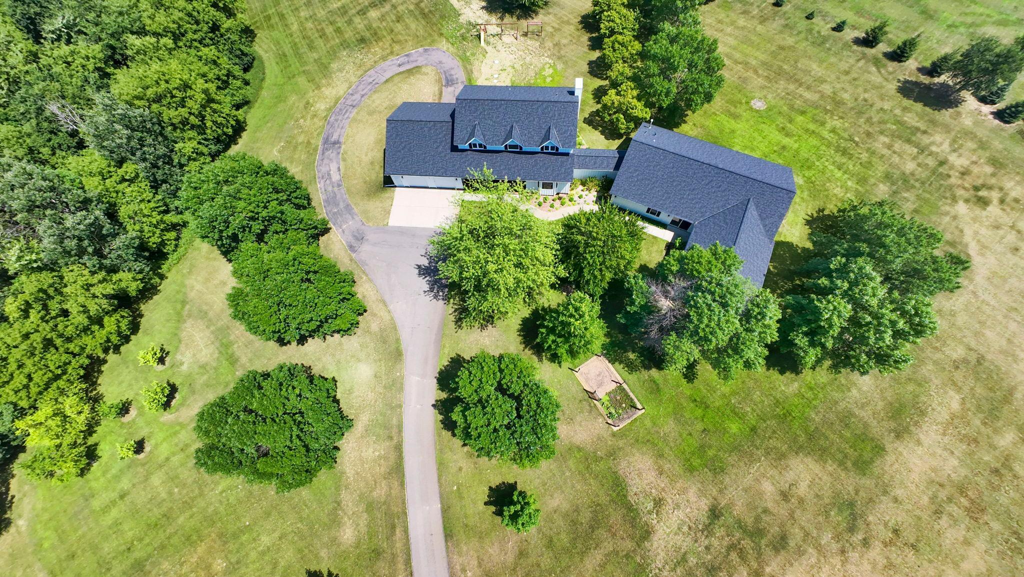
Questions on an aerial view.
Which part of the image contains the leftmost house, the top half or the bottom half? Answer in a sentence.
Seen from above, the leftmost house lies in the top half of the view.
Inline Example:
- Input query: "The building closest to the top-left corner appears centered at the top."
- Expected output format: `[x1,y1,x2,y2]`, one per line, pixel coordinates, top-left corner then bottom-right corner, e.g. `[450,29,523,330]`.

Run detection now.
[382,78,583,196]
